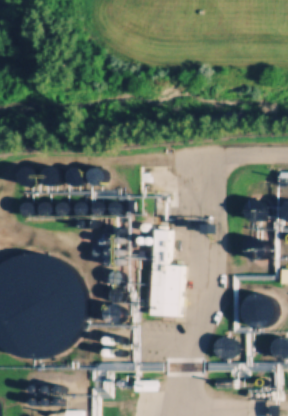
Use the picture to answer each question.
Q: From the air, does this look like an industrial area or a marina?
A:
industrial area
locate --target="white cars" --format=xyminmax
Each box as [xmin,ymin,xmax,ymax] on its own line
[222,275,227,288]
[215,312,223,325]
